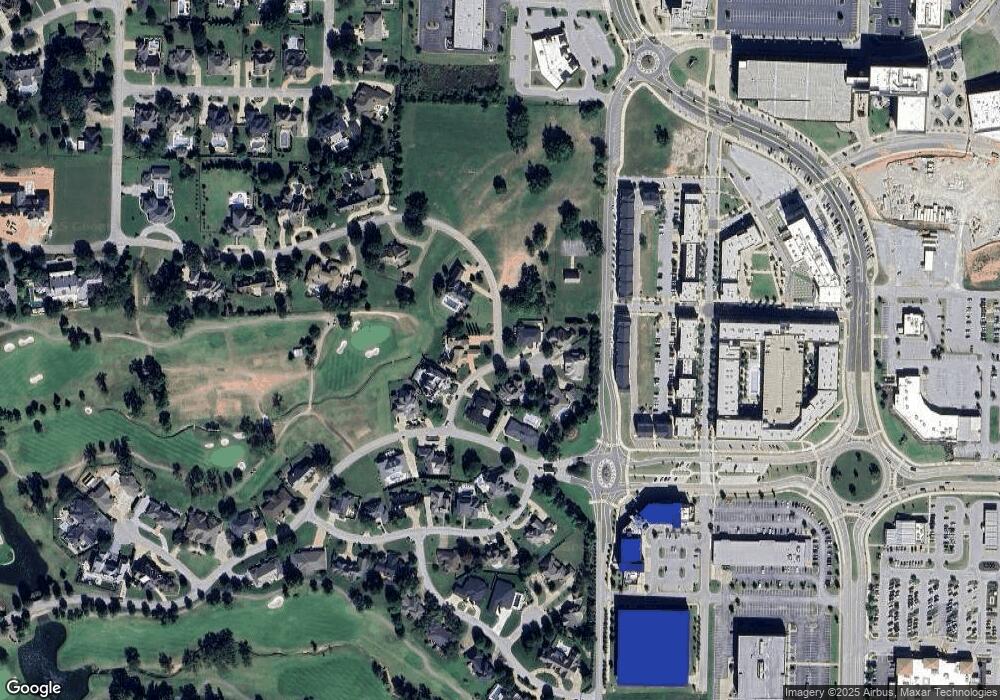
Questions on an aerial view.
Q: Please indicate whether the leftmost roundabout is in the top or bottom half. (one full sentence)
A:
It is in the bottom half that the leftmost roundabout appears.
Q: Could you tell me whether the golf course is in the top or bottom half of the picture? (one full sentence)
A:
Seen from above, the golf course lies in the bottom half of the view.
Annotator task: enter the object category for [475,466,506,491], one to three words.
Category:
house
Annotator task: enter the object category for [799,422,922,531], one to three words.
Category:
roundabout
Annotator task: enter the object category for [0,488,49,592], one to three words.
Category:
pond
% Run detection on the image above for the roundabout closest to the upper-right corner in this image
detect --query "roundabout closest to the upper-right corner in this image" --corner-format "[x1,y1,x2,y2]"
[623,35,667,96]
